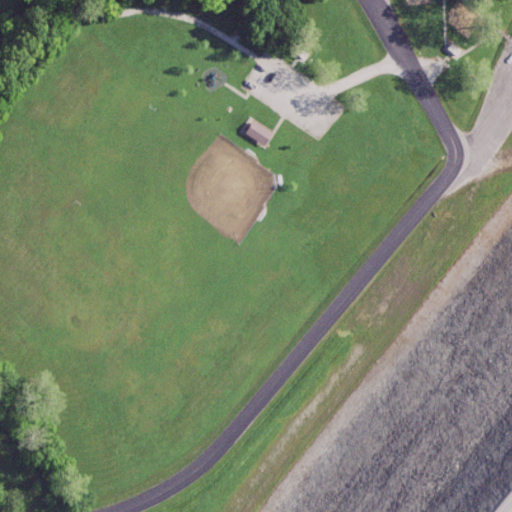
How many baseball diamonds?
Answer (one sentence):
I count 1 baseball diamond.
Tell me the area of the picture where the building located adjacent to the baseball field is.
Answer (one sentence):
The building located adjacent to the baseball field sits in the top section of the image.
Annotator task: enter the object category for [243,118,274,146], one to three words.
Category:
building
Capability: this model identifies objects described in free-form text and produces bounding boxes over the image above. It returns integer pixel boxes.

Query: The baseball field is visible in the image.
[186,132,277,243]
